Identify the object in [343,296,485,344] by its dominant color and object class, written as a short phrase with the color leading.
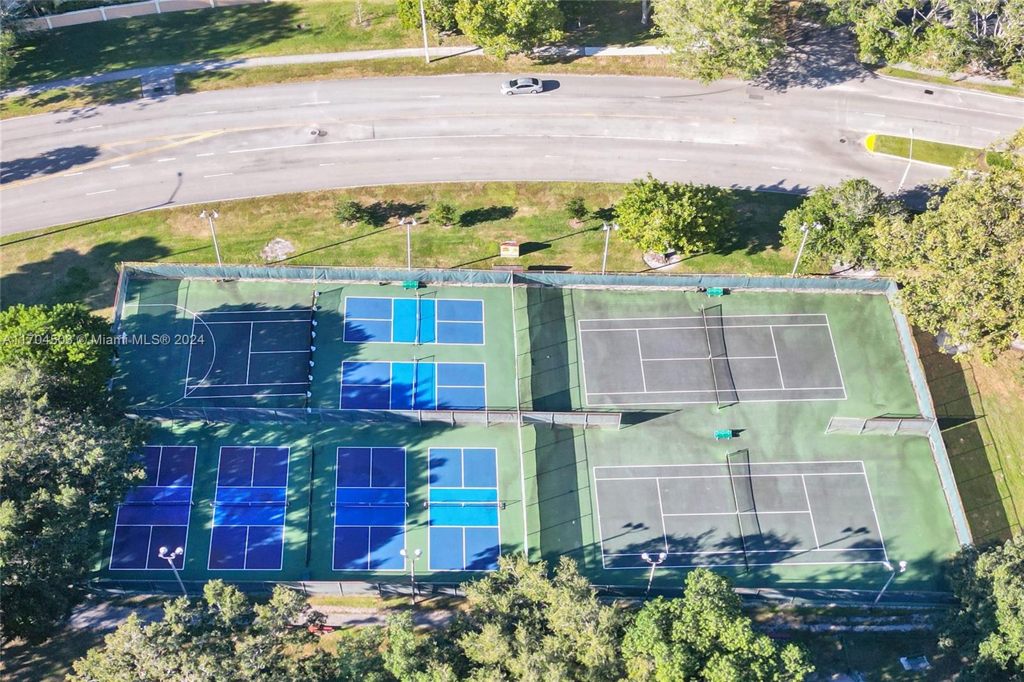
blue sports court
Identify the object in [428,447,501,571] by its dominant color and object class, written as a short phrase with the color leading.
blue sports court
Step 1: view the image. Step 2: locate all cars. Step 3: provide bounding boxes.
[499,75,543,95]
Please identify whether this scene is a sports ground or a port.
sports ground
